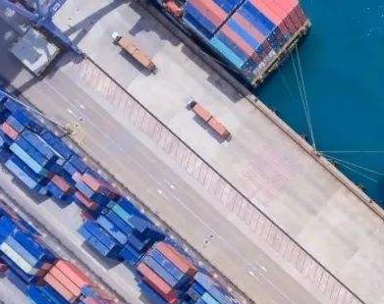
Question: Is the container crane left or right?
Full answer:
It is on the left.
